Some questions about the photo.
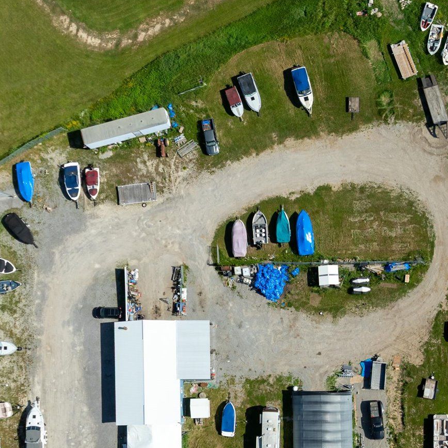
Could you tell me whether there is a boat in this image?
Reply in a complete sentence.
Yes, this view includes a boat.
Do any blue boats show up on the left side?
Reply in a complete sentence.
Yes, there is a blue boat on the left side.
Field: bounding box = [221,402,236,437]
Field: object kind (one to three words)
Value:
boat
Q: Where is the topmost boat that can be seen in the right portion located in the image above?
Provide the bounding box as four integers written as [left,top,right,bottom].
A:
[421,2,439,31]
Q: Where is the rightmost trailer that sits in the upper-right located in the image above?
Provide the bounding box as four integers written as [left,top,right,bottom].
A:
[419,76,448,136]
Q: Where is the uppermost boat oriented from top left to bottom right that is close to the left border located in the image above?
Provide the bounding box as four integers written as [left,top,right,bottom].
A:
[1,211,35,245]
